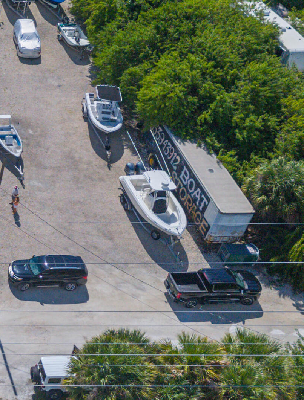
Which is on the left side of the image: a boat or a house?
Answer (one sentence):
The feature located on the left side of the image is a boat.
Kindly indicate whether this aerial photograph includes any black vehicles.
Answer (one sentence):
Yes, the picture does show a black vehicle.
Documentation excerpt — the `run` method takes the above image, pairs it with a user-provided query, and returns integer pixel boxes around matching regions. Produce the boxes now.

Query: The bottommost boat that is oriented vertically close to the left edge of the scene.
[0,106,25,161]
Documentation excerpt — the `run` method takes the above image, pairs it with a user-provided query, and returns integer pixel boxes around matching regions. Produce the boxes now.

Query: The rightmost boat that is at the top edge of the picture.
[57,17,92,46]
